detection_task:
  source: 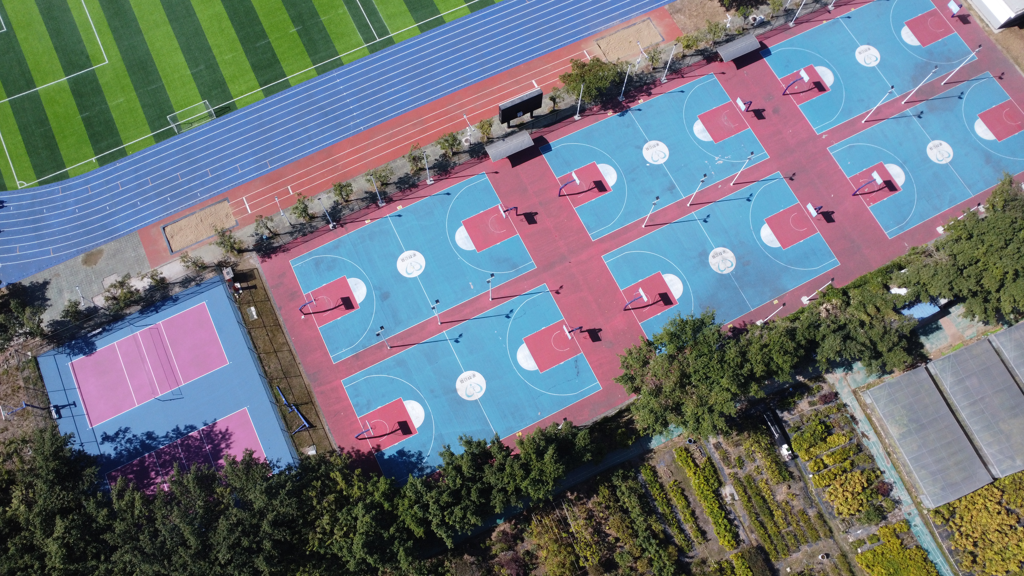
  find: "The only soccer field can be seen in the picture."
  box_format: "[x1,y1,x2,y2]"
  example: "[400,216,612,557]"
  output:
[0,0,502,191]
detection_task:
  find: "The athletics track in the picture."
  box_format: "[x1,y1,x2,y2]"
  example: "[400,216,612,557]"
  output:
[0,0,675,267]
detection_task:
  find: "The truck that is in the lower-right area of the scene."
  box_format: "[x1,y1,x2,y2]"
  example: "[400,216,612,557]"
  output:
[759,409,796,461]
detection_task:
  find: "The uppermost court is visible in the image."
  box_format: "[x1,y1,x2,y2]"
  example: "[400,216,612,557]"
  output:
[761,0,976,134]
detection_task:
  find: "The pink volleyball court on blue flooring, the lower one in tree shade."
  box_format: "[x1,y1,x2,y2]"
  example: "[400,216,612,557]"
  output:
[110,405,270,538]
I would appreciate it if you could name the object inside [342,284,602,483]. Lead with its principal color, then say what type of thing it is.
blue basketball court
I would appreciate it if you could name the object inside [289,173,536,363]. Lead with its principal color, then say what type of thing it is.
blue basketball court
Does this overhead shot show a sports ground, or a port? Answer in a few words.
sports ground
